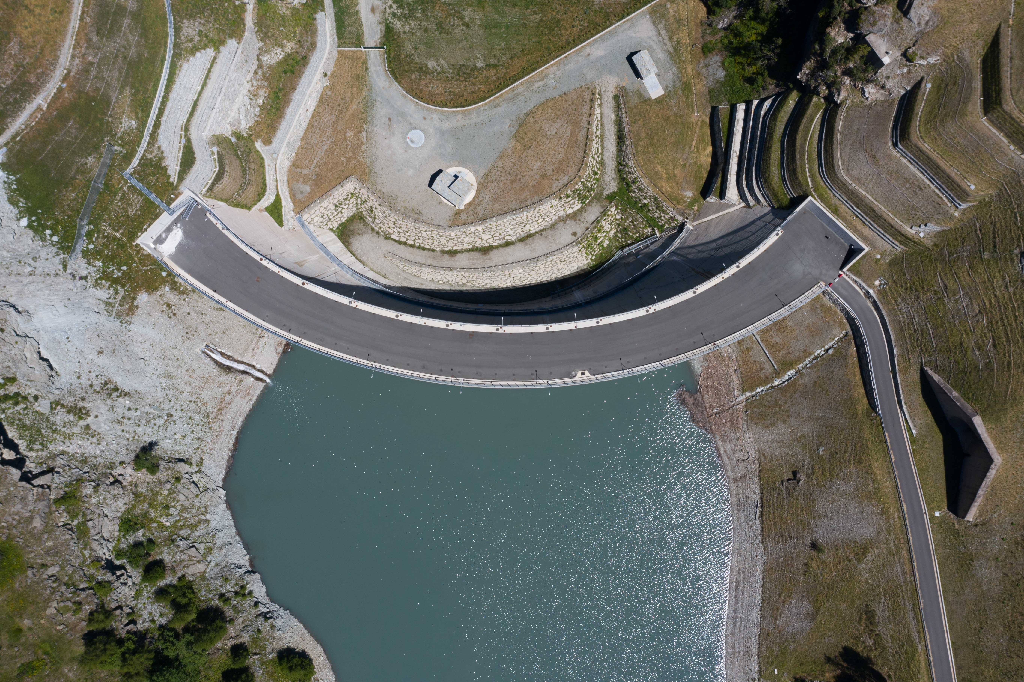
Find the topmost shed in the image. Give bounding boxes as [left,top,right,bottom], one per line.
[630,50,664,100]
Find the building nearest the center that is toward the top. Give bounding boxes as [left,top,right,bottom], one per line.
[432,167,477,210]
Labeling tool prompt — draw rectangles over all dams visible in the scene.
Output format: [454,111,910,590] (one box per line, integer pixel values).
[136,189,867,387]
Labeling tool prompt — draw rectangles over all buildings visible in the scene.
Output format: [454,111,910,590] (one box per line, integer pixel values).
[630,50,664,100]
[432,167,477,210]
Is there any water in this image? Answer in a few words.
Yes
